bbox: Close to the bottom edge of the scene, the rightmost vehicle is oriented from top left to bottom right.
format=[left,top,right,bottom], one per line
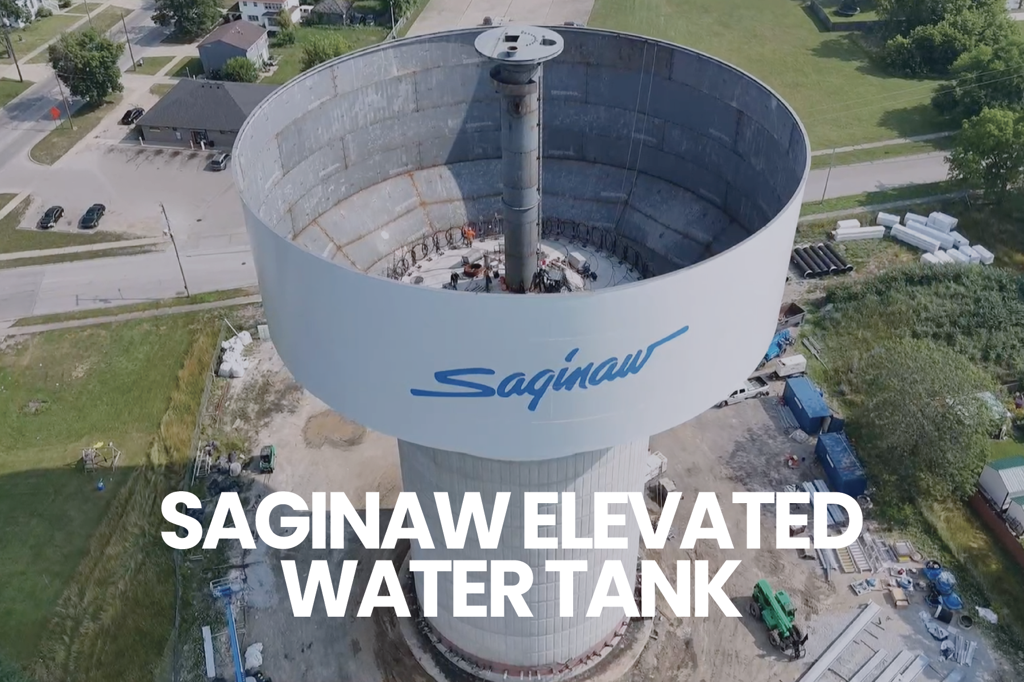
[743,581,803,666]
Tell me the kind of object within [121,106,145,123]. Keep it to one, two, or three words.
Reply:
car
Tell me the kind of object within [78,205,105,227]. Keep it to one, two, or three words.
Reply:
car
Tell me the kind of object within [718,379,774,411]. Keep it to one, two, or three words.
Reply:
truck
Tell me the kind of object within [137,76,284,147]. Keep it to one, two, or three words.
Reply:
building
